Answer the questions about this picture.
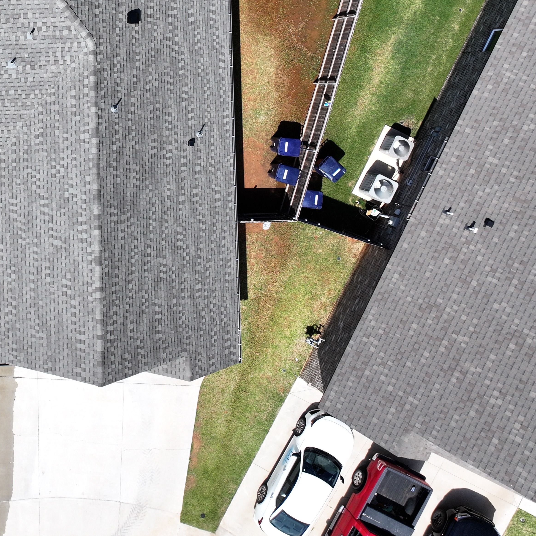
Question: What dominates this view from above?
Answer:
buildings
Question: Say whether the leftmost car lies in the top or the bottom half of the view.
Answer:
bottom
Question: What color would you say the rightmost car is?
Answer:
black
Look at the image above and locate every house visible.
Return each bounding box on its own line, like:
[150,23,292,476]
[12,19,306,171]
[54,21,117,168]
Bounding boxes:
[0,0,242,381]
[299,0,536,508]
